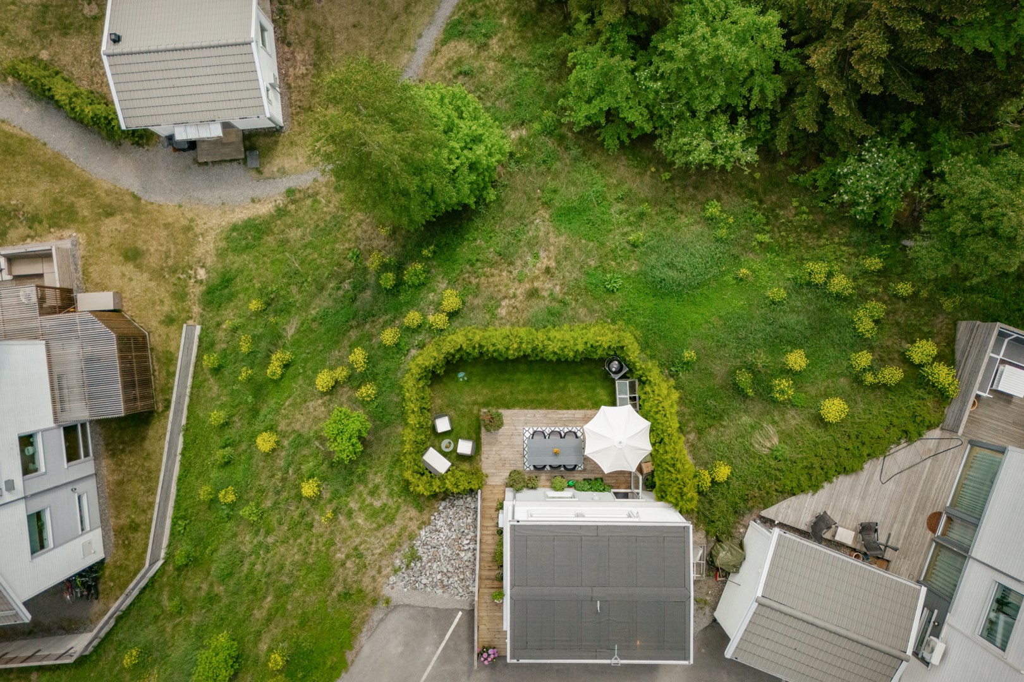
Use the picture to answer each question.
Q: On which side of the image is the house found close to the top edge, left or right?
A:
left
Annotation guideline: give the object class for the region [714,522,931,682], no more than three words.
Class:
building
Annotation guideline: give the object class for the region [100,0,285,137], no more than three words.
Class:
house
